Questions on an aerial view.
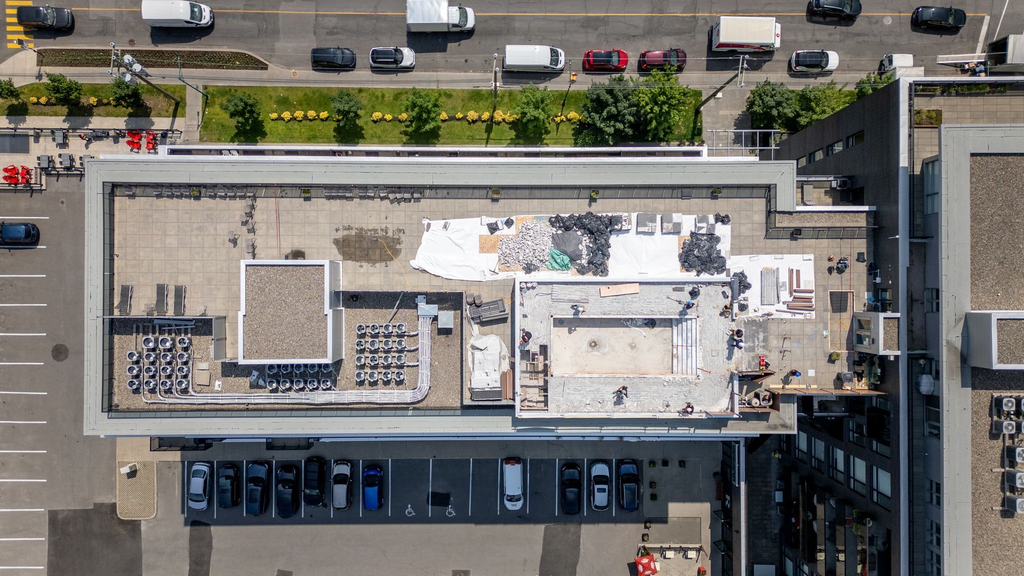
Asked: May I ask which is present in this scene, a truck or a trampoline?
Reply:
truck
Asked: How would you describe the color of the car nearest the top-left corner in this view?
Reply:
black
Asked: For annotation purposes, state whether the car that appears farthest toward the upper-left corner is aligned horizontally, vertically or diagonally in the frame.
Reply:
horizontally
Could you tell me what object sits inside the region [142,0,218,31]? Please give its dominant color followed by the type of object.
white van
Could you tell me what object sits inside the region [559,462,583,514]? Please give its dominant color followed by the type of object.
black car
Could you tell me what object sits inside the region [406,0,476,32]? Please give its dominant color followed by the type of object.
white truck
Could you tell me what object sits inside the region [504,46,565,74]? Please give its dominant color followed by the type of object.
white van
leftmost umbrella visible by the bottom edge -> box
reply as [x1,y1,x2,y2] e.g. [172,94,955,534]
[635,552,656,576]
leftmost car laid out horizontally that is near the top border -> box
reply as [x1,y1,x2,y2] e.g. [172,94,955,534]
[18,4,74,31]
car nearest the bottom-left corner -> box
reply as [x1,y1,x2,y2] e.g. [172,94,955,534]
[186,461,213,510]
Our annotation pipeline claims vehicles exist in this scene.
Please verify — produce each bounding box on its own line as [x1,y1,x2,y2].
[186,461,213,510]
[301,457,326,506]
[142,0,218,31]
[875,50,924,80]
[0,222,43,246]
[583,48,627,73]
[360,464,384,511]
[806,0,859,23]
[501,455,525,507]
[640,47,686,72]
[406,0,476,32]
[275,465,300,519]
[790,48,837,73]
[911,5,964,31]
[589,460,612,511]
[706,13,777,52]
[559,462,583,514]
[244,461,271,516]
[217,463,242,509]
[329,460,353,511]
[311,45,356,70]
[18,4,74,31]
[369,45,415,70]
[504,46,565,74]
